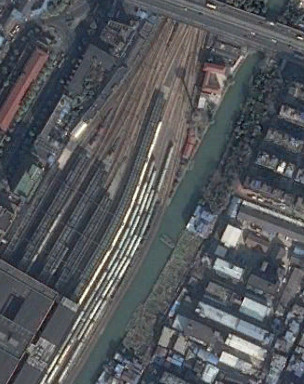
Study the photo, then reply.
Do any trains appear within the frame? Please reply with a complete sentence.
Yes, the image includes a train.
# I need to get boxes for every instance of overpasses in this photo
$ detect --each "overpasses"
[124,0,304,72]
